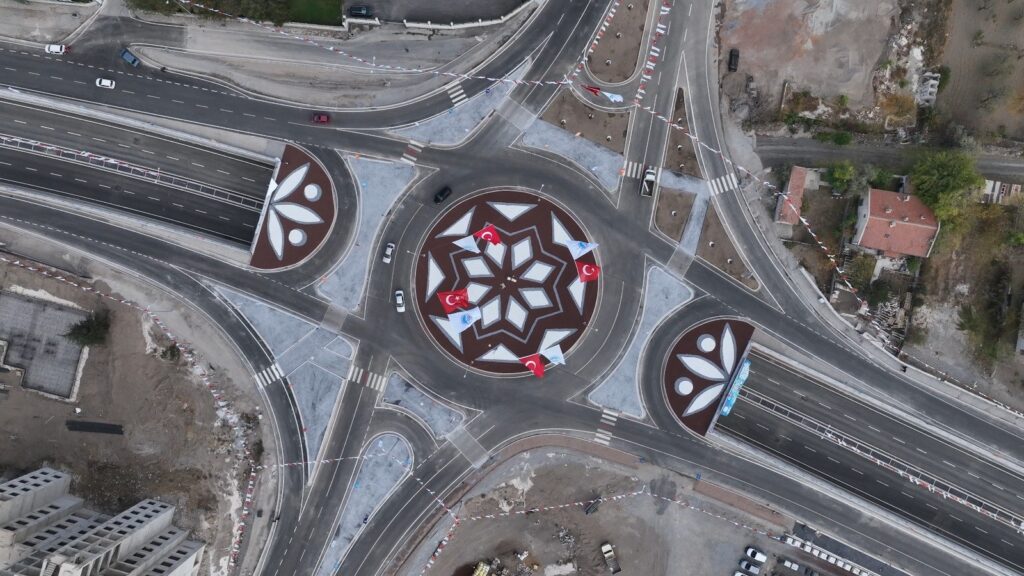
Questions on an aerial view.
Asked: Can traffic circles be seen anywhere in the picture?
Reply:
Yes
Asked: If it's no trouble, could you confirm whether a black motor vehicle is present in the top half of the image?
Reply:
Yes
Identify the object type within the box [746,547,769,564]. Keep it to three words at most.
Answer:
car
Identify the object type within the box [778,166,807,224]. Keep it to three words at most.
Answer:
shed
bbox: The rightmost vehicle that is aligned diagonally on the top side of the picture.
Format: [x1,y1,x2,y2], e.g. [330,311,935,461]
[432,185,453,204]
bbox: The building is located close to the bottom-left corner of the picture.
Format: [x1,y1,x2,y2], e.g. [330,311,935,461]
[0,468,205,576]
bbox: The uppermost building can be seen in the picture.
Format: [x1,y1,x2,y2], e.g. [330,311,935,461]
[914,72,941,107]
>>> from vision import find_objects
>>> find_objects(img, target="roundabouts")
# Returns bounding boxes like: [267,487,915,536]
[411,186,603,378]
